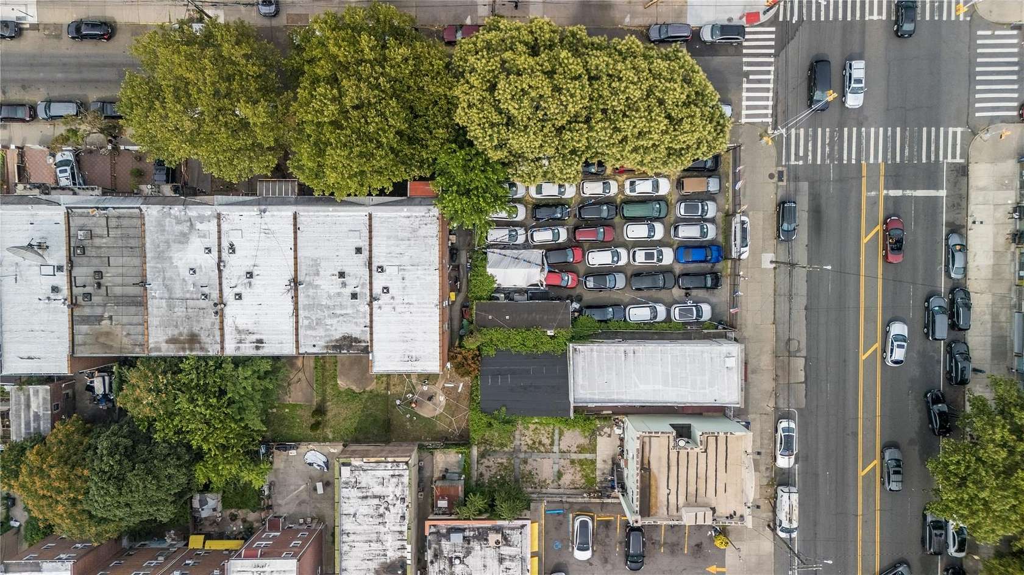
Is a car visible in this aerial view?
Yes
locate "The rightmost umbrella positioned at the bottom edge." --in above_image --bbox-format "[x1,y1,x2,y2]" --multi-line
[714,534,728,548]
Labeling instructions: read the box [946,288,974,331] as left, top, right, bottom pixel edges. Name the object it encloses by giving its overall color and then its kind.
black car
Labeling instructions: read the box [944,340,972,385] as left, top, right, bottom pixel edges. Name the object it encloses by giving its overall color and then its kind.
black car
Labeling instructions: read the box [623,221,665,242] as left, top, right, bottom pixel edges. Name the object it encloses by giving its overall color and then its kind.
white car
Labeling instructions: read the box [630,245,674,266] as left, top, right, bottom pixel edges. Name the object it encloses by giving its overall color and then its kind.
white car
